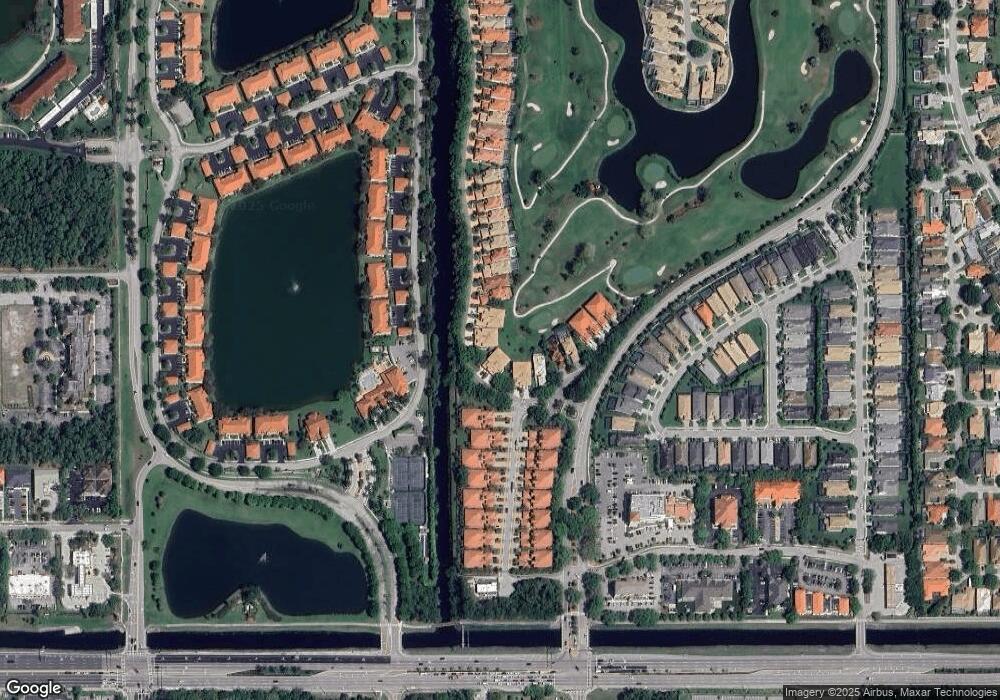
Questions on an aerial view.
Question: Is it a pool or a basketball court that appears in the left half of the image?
pool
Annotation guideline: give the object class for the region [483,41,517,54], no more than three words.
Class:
house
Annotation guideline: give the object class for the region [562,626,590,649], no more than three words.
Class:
bridge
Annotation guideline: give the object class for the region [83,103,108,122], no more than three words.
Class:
swimming pool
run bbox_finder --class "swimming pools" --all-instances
[358,371,378,391]
[83,103,108,122]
